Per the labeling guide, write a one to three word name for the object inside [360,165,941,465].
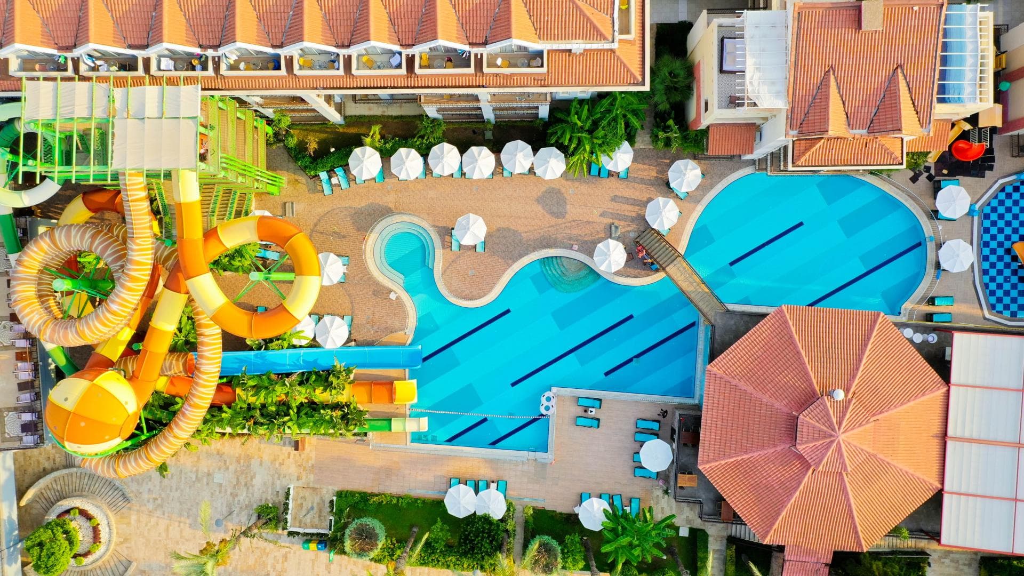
swimming pool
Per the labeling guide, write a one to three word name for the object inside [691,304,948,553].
building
